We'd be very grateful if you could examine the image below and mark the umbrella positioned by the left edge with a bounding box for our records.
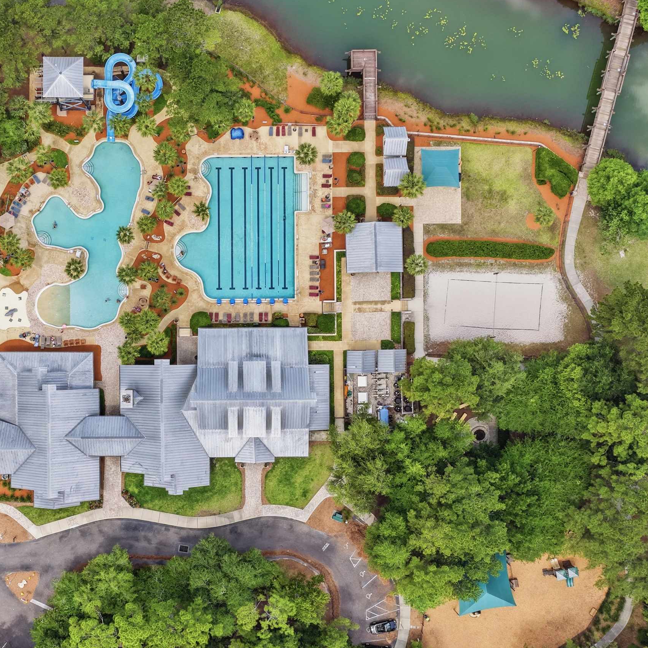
[0,210,17,232]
